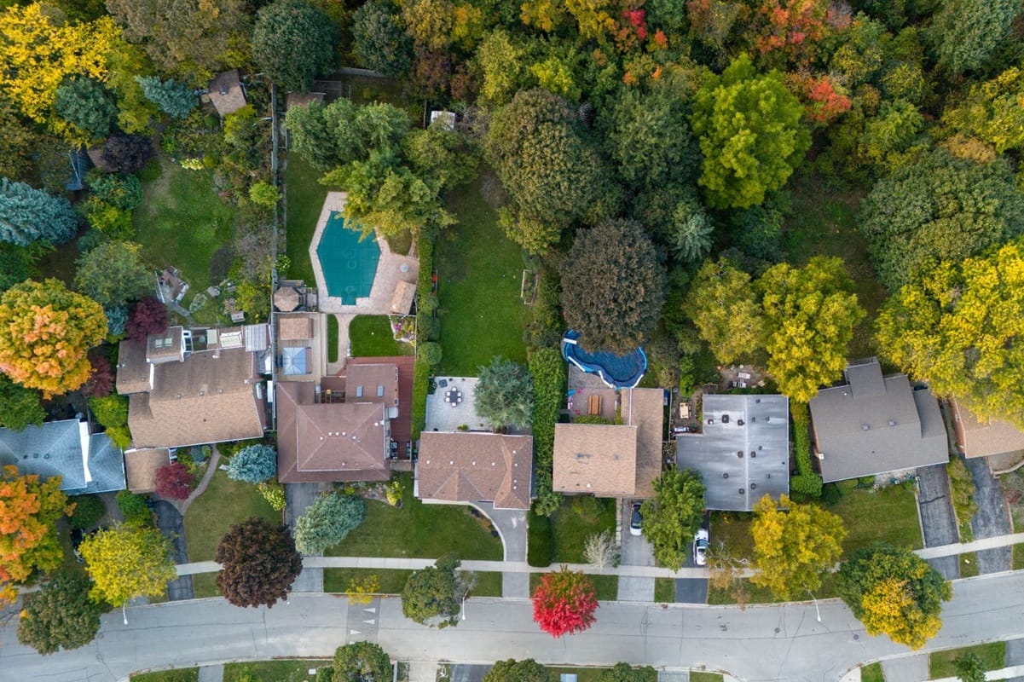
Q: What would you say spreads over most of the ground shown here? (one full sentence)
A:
For the most part, this view shows trees.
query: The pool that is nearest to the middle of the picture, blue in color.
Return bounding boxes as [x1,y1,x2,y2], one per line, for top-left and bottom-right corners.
[561,328,645,389]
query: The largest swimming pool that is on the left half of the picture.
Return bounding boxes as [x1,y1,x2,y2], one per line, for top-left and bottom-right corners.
[313,208,384,309]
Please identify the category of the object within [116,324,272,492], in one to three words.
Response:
house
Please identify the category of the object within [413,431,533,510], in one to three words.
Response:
house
